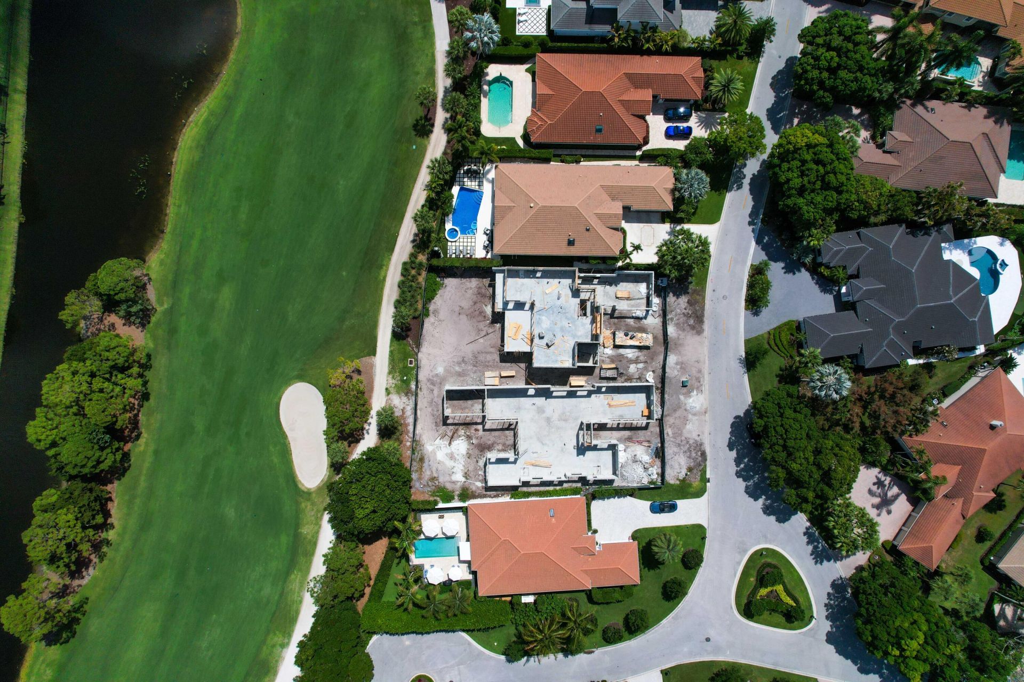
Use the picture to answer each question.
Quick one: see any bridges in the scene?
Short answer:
No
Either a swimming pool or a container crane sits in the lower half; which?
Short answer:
swimming pool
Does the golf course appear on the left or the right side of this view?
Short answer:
left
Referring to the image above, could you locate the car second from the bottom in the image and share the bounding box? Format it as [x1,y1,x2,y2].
[744,421,763,448]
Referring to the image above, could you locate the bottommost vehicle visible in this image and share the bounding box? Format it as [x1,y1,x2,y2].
[649,501,678,514]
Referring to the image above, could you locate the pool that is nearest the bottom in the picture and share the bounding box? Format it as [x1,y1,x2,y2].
[414,535,458,560]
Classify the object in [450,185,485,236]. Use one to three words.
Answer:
swimming pool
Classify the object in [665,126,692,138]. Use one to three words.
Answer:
vehicle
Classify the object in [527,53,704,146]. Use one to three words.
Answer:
house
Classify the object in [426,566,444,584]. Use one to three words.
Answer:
umbrella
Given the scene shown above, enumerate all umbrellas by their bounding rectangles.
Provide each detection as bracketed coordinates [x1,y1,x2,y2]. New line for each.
[448,566,462,581]
[422,519,441,537]
[426,566,444,584]
[442,519,459,536]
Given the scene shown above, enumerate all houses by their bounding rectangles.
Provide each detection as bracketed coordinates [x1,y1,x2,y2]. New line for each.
[799,223,995,369]
[849,97,1012,199]
[493,164,675,256]
[992,525,1024,588]
[893,366,1024,571]
[495,267,654,367]
[444,382,656,486]
[551,0,681,35]
[468,497,640,597]
[527,53,704,146]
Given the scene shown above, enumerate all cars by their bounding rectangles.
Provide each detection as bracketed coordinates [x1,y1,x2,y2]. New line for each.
[665,107,692,121]
[665,126,692,138]
[744,421,763,448]
[649,501,678,514]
